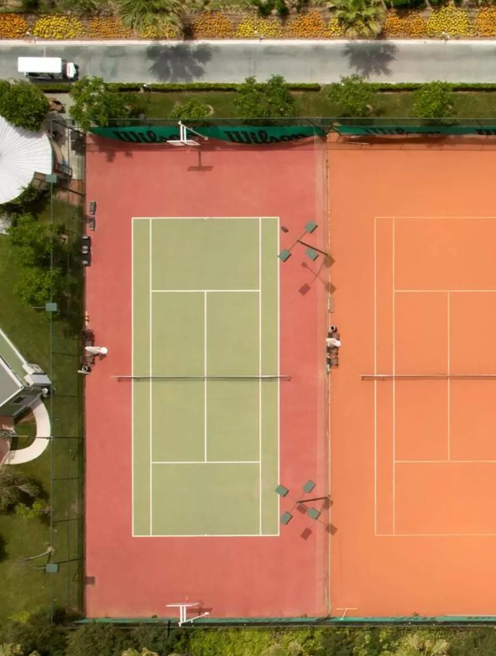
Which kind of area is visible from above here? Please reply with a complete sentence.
This looks like a sports ground.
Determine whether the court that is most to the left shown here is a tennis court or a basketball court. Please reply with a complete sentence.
What you see as the court that is most to the left is a tennis court.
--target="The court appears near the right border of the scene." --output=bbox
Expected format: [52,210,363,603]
[329,135,496,615]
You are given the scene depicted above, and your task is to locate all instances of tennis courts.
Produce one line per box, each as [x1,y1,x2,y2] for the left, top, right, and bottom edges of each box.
[85,135,329,616]
[329,135,496,615]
